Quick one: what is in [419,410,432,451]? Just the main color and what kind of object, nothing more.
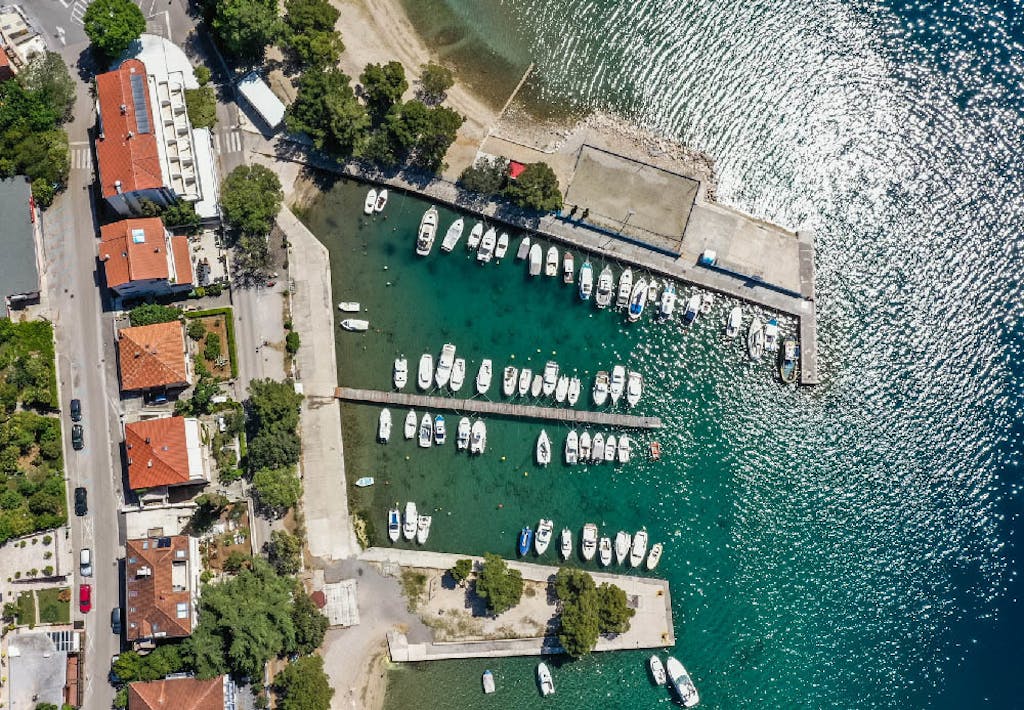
white boat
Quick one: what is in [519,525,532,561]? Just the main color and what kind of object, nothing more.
blue boat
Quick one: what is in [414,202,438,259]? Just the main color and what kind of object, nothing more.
white boat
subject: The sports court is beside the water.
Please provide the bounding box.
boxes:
[563,143,701,243]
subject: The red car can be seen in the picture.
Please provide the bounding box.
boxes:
[79,584,94,611]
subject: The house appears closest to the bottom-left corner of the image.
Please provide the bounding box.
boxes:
[8,619,86,710]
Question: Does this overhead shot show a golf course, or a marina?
marina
